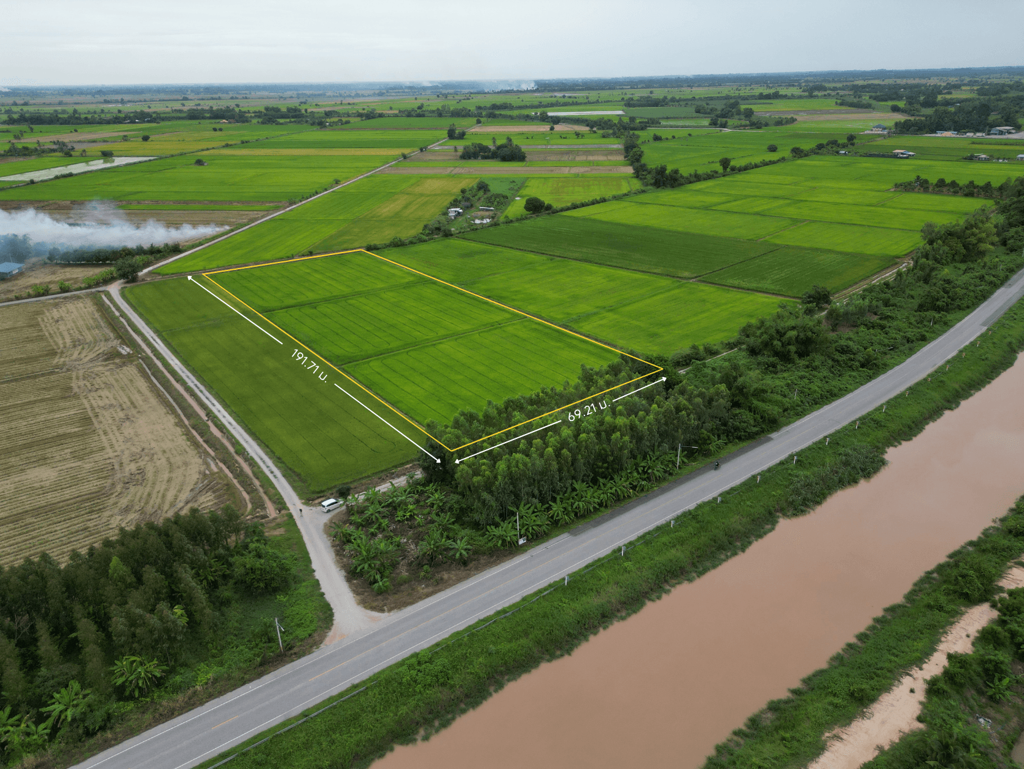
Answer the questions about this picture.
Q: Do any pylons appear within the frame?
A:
No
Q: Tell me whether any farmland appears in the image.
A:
Yes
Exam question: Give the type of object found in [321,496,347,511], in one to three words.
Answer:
vehicle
